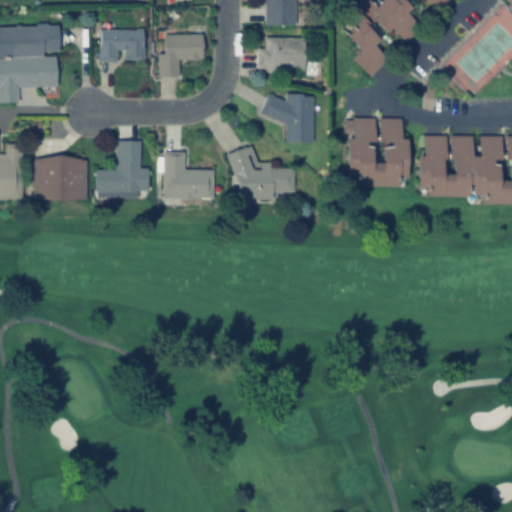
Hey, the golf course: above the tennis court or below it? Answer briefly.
below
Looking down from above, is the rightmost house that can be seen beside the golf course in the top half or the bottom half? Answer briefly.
top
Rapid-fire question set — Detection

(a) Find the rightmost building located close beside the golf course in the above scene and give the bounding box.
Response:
[422,135,512,204]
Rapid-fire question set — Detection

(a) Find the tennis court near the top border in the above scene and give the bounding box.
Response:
[445,10,512,96]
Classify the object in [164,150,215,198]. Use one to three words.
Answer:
house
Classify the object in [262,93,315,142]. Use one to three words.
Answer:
house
